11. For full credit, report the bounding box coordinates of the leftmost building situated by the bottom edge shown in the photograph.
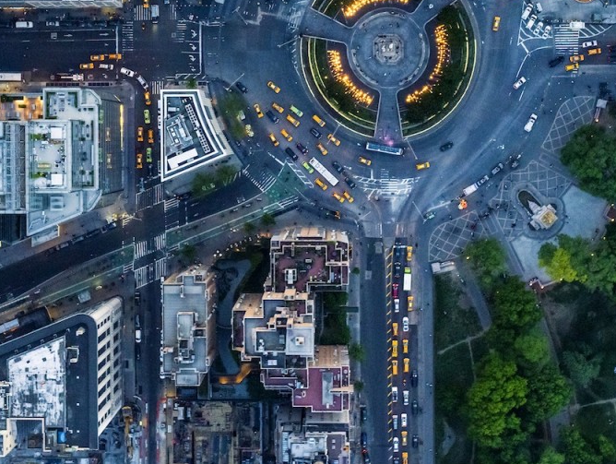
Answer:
[0,289,125,456]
